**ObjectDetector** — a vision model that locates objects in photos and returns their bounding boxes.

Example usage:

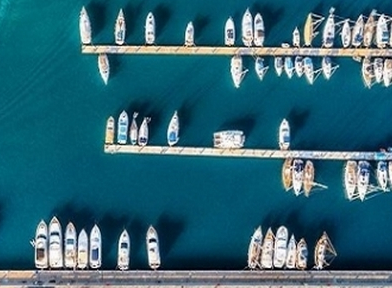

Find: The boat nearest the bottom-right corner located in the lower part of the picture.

[314,232,339,270]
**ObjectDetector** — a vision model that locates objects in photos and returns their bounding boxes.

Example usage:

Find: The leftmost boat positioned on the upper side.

[78,6,91,46]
